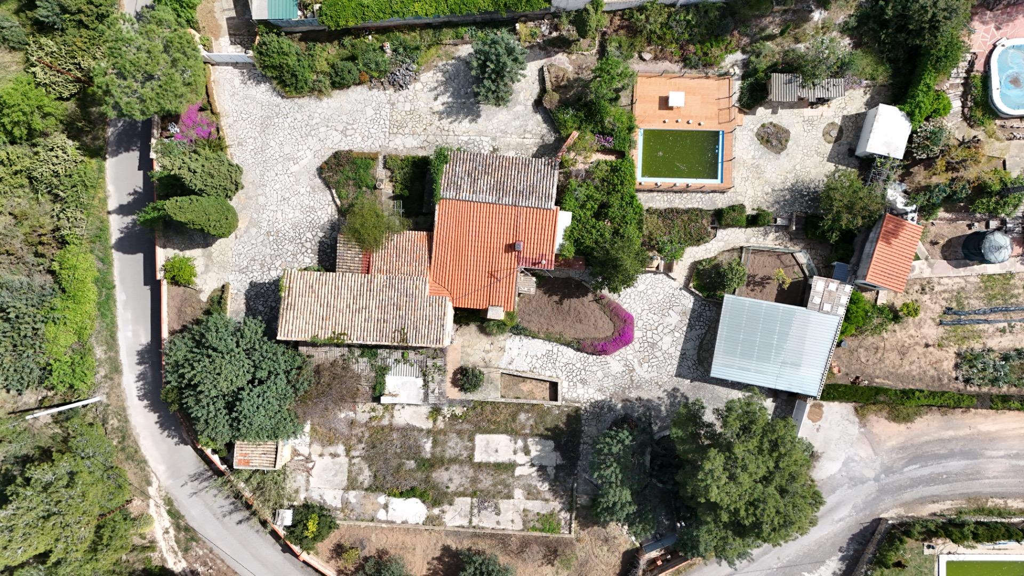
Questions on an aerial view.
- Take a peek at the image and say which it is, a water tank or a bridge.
water tank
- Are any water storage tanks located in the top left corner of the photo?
No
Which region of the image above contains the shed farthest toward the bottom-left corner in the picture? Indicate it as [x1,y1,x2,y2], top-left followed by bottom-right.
[230,433,297,469]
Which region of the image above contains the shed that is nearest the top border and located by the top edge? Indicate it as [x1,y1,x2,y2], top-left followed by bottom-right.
[252,0,306,31]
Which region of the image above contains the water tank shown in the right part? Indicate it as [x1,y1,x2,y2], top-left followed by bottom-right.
[966,229,1016,263]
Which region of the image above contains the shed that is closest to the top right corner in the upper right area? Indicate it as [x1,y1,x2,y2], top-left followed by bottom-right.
[853,104,911,162]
